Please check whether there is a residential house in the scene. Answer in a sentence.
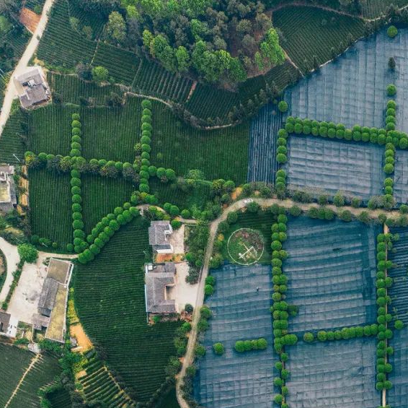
Yes, the image includes a residential house.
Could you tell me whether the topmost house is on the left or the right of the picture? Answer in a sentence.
It is on the left.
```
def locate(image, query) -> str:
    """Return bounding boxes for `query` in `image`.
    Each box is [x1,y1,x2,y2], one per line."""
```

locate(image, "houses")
[15,70,49,110]
[0,312,17,338]
[149,219,176,257]
[145,263,177,315]
[0,166,18,213]
[31,258,75,344]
